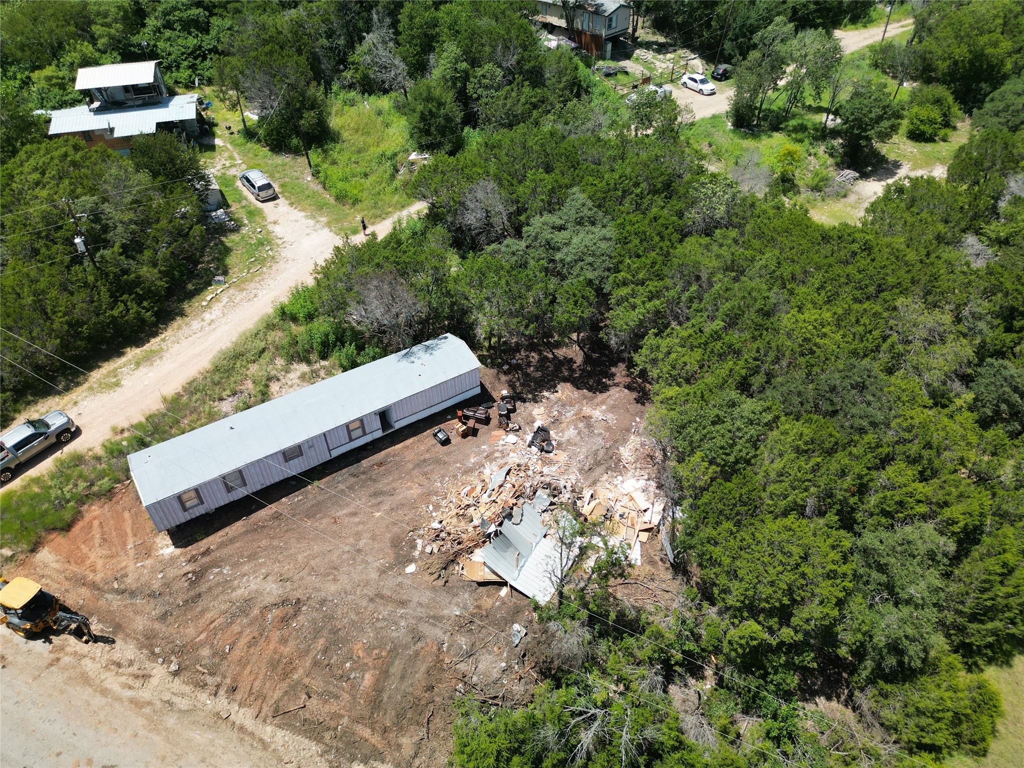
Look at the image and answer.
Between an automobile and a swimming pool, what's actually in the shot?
automobile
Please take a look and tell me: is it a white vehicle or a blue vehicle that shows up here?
white vehicle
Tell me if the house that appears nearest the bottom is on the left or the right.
left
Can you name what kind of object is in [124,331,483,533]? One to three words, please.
house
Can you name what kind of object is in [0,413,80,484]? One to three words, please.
truck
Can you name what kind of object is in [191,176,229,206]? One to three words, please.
shed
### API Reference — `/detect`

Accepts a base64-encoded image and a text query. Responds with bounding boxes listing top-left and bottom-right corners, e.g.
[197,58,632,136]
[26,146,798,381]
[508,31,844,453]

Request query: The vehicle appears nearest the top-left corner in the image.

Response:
[239,173,279,201]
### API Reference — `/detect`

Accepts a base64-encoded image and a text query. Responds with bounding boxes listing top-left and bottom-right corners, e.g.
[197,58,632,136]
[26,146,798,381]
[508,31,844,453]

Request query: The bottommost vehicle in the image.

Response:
[0,575,99,650]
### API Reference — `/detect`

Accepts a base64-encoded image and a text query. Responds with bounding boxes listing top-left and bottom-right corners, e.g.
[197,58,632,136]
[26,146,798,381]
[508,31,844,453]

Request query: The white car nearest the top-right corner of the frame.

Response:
[682,78,716,96]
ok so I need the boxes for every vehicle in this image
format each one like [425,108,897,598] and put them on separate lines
[239,173,279,201]
[682,78,716,96]
[0,413,80,484]
[0,575,99,650]
[712,65,731,81]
